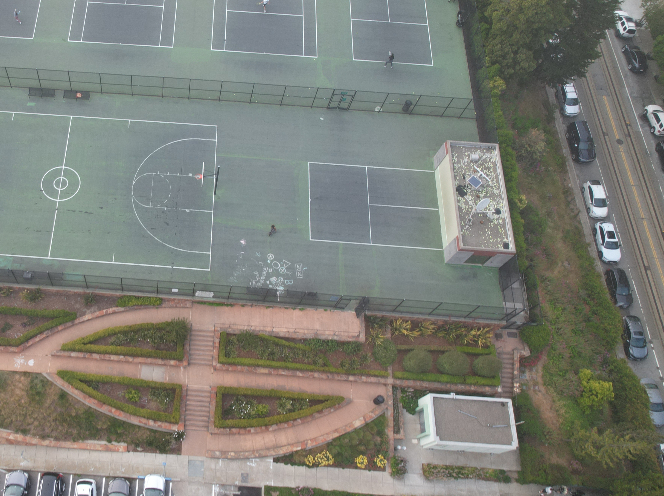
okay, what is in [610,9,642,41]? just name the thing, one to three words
car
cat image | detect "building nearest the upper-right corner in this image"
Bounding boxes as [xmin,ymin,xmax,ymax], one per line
[436,141,515,266]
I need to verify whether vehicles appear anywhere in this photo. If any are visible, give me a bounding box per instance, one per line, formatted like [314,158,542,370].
[557,80,584,117]
[610,9,642,41]
[37,472,64,496]
[107,478,130,496]
[602,268,636,309]
[619,43,647,76]
[582,179,611,220]
[140,473,168,496]
[654,138,664,174]
[617,315,652,362]
[592,221,624,266]
[1,470,29,496]
[643,103,664,138]
[641,379,664,427]
[567,119,599,164]
[74,478,98,496]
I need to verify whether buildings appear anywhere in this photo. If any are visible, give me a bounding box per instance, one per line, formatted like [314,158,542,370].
[410,394,523,453]
[436,141,515,266]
